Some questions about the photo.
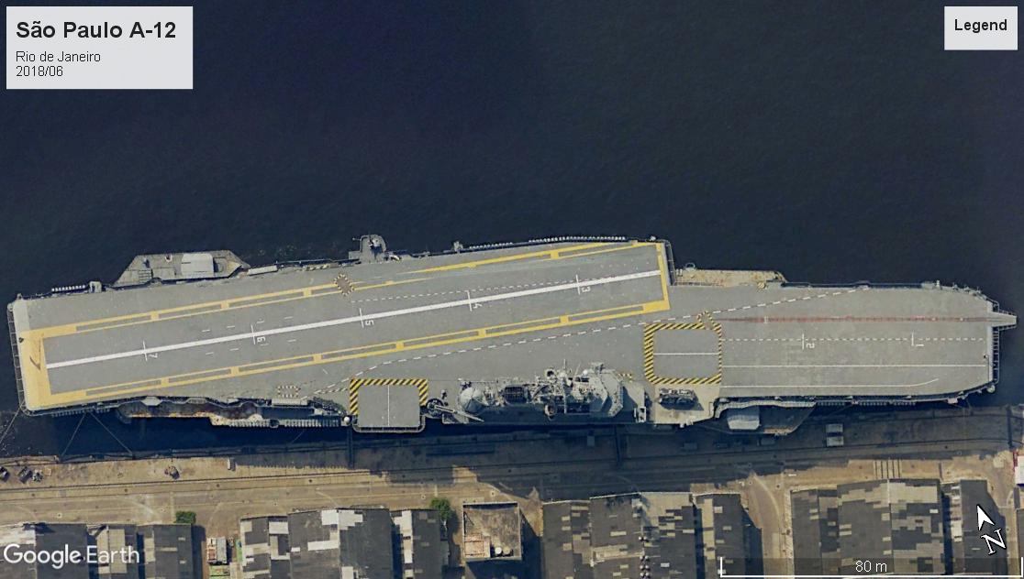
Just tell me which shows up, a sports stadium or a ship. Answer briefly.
ship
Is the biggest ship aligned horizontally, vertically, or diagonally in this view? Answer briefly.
horizontally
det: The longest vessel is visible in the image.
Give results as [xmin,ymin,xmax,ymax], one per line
[7,231,1017,436]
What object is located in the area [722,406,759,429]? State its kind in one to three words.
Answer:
boat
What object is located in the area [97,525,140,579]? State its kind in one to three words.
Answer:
building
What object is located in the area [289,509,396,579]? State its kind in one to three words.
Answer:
building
